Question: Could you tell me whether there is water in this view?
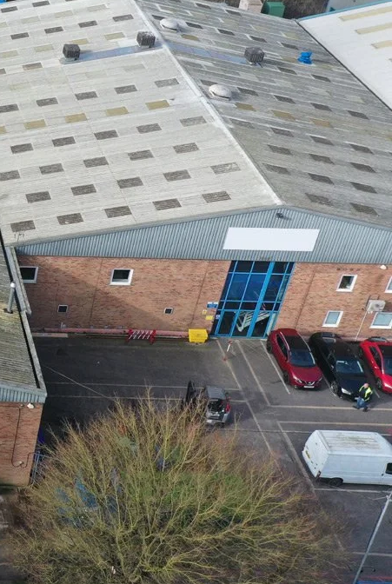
No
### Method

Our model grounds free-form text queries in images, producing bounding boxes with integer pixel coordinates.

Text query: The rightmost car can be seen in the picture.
[359,333,392,389]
